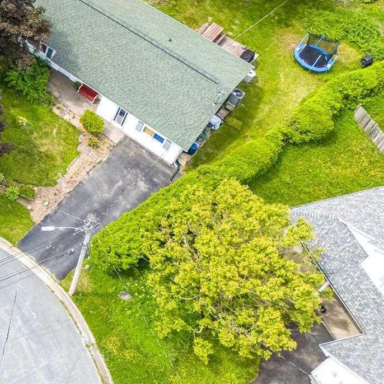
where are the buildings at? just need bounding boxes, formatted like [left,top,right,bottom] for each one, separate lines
[1,0,255,169]
[288,189,384,384]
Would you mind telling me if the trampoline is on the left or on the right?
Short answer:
right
